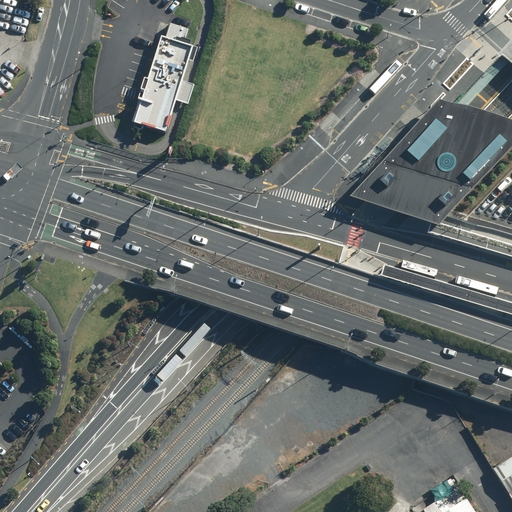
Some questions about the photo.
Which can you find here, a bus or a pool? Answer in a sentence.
The image shows a bus.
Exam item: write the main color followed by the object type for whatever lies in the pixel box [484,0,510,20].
white bus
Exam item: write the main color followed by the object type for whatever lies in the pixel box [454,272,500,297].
white bus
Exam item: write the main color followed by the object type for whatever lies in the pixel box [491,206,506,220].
white vehicle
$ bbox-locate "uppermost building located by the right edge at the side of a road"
[350,100,512,224]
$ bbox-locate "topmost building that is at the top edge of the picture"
[133,22,198,131]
